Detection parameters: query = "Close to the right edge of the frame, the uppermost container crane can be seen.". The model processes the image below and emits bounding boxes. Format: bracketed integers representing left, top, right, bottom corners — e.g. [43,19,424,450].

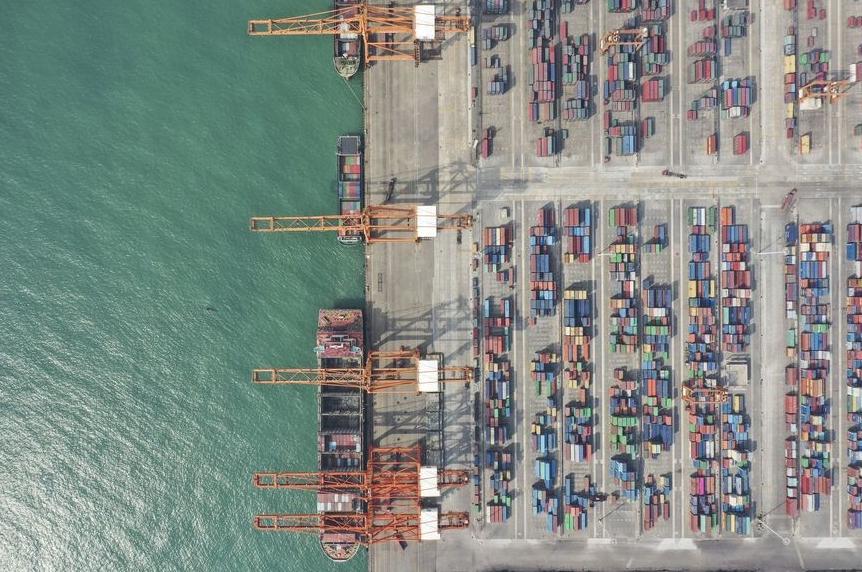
[798,74,859,103]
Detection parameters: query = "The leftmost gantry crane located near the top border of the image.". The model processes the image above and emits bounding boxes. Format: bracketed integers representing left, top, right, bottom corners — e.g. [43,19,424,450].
[248,0,471,70]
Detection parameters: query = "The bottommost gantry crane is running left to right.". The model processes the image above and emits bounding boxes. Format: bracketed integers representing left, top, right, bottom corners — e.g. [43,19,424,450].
[253,480,475,543]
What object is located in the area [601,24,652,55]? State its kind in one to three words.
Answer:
container crane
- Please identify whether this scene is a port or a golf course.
port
